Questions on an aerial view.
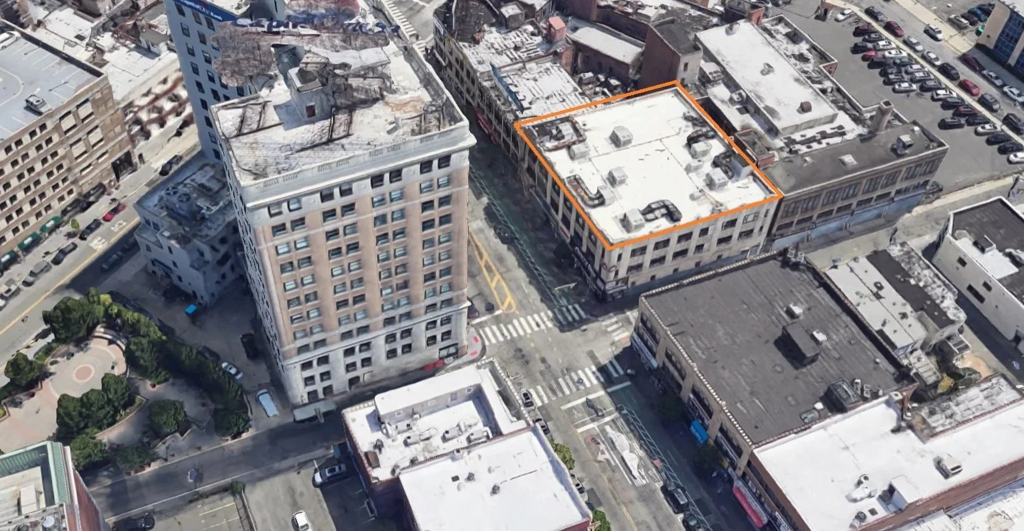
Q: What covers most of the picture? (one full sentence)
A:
For the most part, this view shows buildings.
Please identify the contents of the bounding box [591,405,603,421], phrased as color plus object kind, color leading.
gray vehicle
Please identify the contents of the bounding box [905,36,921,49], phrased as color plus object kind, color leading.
gray vehicle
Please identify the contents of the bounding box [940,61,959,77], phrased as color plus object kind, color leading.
black car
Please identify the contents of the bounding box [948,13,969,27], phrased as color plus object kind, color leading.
gray car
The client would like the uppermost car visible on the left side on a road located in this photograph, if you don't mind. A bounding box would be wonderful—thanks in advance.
[160,156,181,172]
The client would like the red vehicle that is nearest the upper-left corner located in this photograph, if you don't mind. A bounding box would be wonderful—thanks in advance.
[102,203,125,221]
